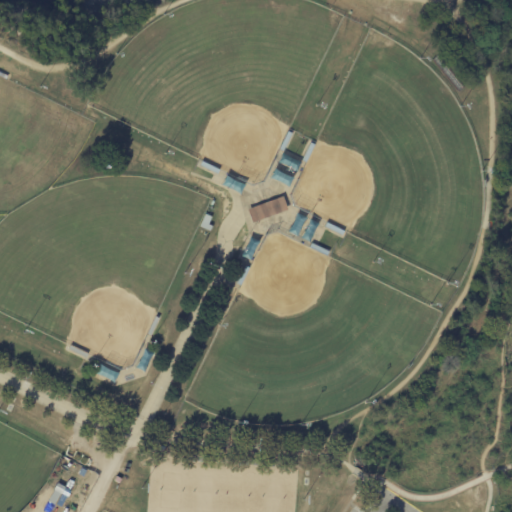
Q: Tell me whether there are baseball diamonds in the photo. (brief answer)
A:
Yes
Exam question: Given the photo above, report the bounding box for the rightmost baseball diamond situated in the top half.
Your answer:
[292,29,484,284]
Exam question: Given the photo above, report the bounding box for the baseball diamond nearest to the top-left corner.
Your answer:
[0,76,94,213]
